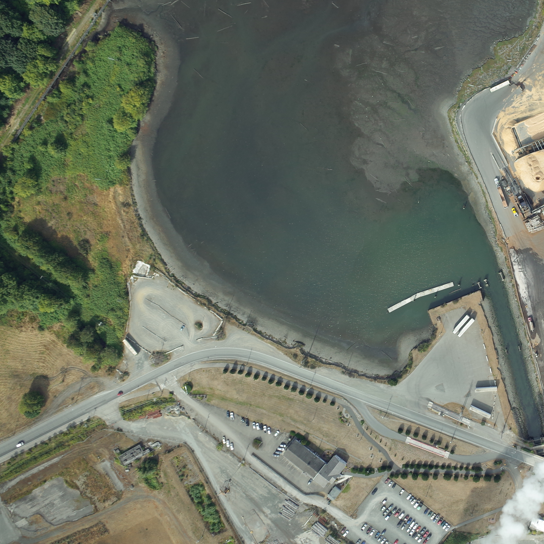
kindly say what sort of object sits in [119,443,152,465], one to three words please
house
